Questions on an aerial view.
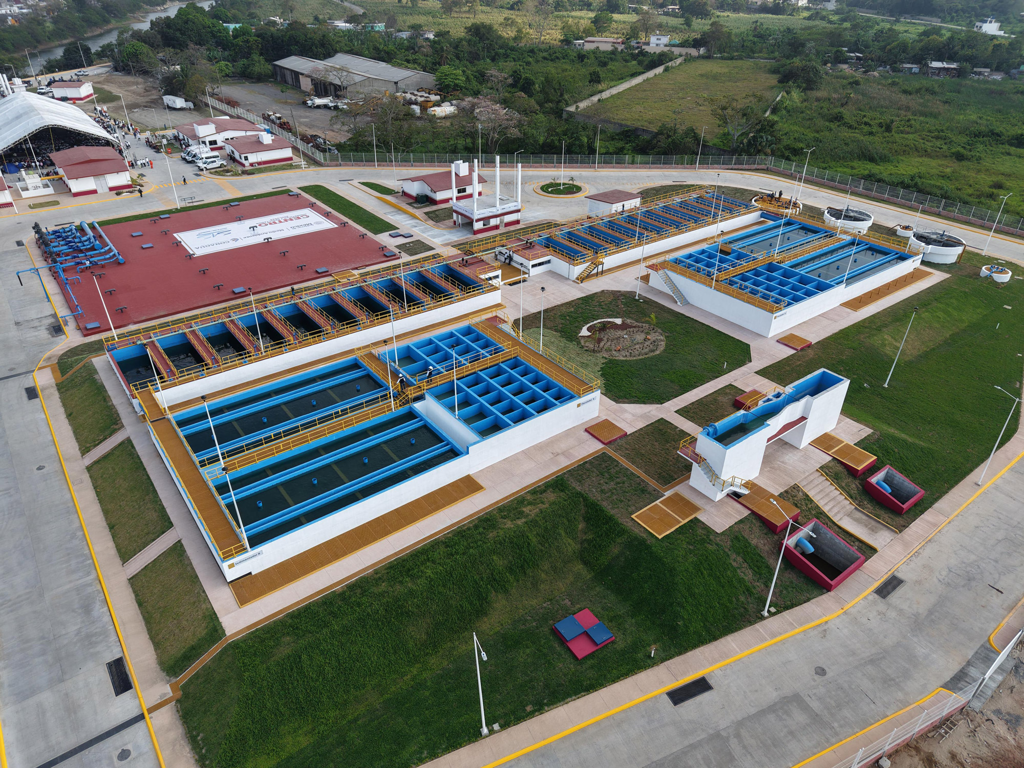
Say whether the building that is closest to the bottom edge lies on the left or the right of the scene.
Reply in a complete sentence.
The building that is closest to the bottom edge is on the left side of the image.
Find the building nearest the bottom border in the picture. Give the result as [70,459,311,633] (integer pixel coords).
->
[99,249,502,418]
